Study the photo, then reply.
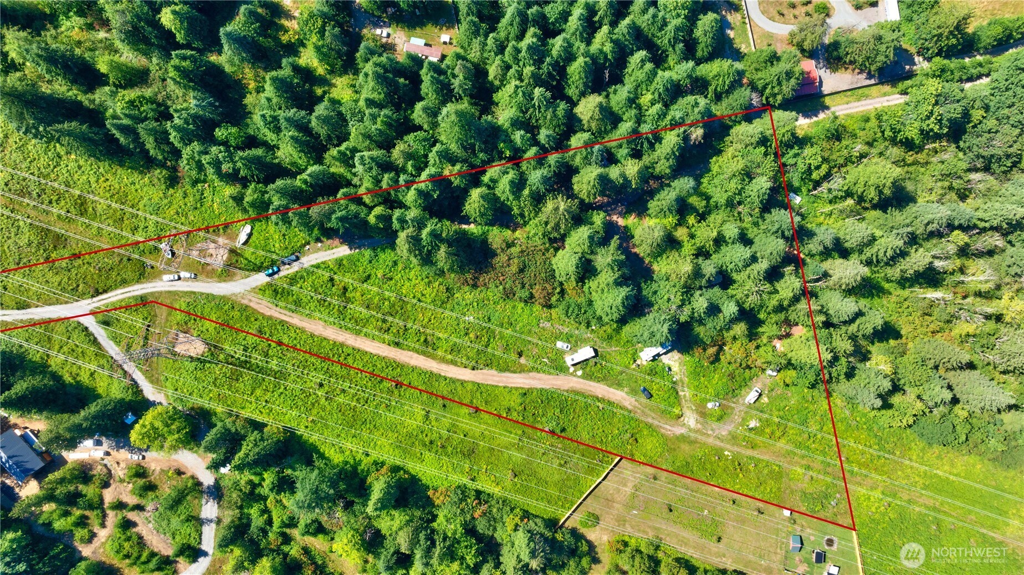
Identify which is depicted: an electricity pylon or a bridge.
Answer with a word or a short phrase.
electricity pylon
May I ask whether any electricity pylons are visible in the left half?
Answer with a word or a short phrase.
Yes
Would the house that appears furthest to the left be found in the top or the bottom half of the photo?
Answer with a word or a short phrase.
bottom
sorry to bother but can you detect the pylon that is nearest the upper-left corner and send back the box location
[157,221,229,276]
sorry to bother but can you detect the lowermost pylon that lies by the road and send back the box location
[119,322,208,385]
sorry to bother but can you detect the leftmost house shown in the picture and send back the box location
[0,422,52,482]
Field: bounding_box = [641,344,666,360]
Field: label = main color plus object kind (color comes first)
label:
white vehicle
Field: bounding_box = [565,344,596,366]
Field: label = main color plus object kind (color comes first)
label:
white camper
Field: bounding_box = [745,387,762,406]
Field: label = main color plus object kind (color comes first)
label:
white vehicle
